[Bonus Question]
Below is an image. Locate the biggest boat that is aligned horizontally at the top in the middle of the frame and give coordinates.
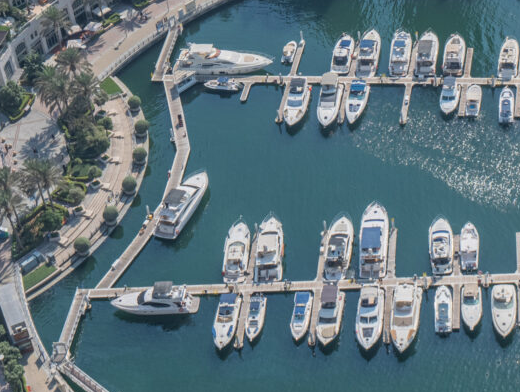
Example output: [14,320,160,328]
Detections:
[170,43,273,79]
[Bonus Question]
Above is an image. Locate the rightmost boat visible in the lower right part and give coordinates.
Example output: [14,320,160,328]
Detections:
[490,285,518,339]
